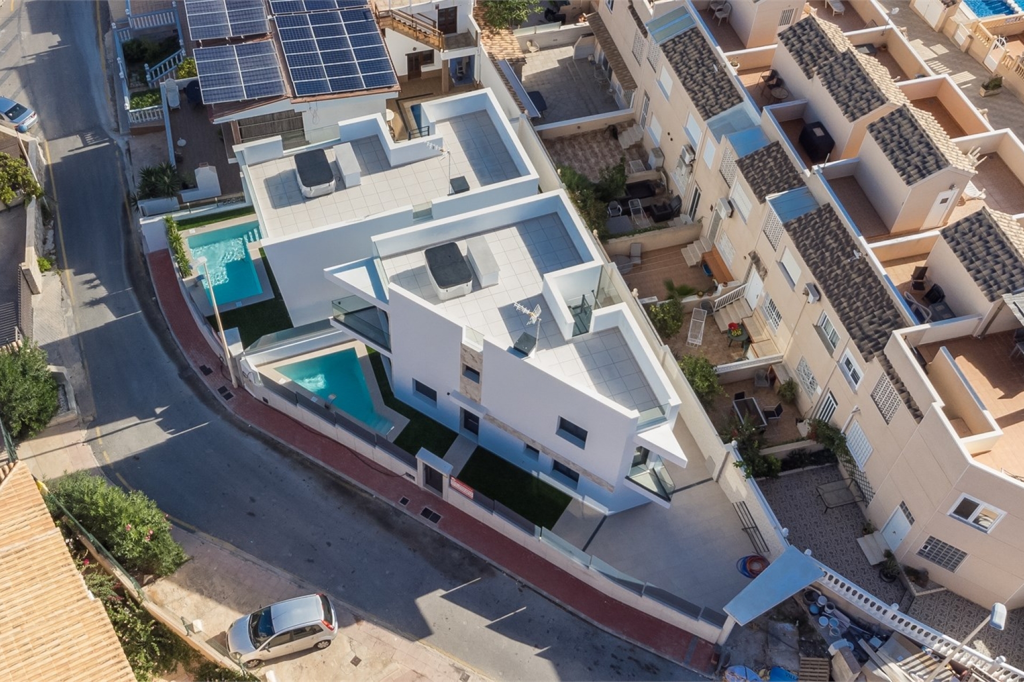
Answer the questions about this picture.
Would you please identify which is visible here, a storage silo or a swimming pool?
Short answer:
swimming pool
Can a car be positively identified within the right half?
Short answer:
No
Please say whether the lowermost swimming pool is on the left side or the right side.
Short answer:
left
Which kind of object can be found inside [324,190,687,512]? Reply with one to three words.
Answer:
house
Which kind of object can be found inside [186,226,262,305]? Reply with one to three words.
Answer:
swimming pool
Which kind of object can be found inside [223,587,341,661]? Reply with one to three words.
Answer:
car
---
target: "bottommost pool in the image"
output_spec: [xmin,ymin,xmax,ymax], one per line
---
[273,347,394,434]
